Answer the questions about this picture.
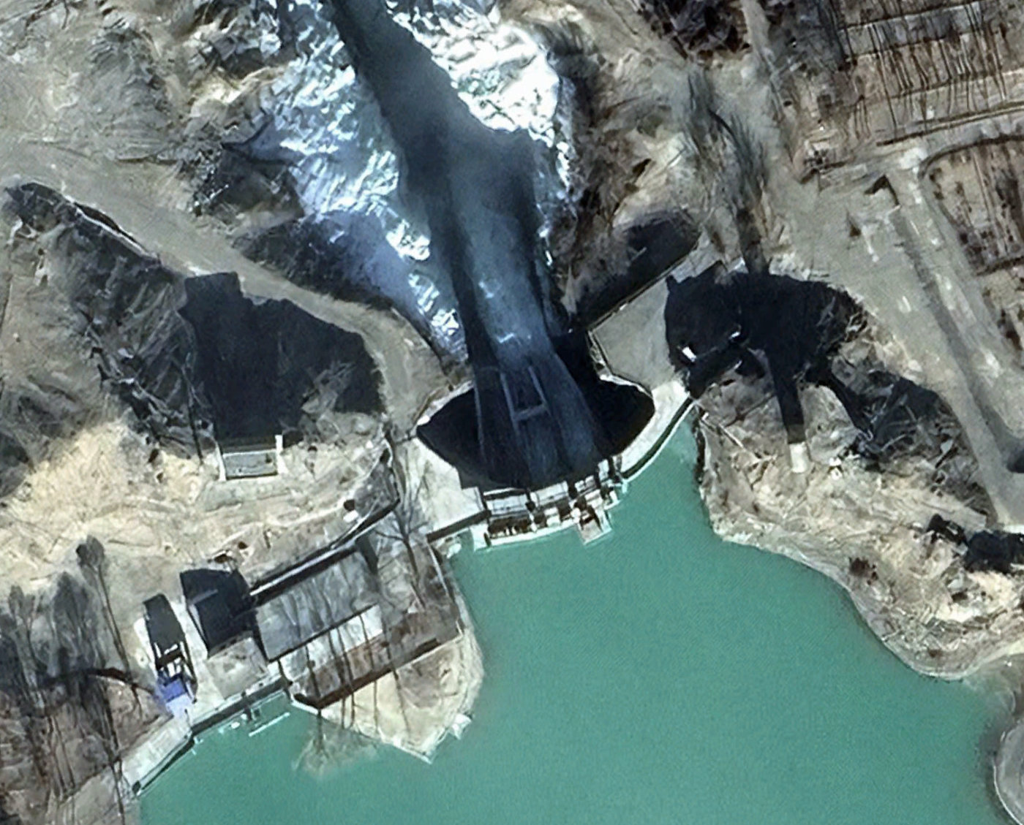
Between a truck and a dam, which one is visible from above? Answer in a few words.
dam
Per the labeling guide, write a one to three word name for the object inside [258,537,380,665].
building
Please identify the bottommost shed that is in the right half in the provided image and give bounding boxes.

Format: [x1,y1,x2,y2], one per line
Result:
[926,513,965,548]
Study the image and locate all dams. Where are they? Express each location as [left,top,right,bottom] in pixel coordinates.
[406,219,693,548]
